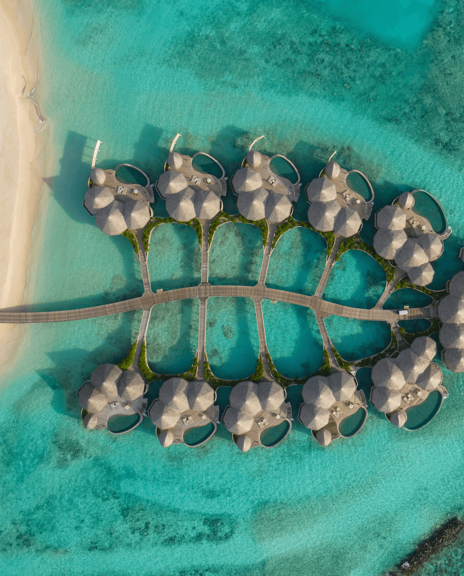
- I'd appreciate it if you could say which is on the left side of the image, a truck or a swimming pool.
swimming pool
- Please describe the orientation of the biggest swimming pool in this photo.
at an angle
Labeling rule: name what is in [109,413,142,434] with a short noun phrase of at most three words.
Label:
swimming pool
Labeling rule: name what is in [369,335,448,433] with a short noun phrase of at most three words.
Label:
house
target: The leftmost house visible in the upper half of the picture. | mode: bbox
[81,164,155,239]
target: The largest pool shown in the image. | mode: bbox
[404,390,441,431]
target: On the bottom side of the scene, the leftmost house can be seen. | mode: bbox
[76,361,150,436]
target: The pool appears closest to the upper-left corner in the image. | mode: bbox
[115,166,149,188]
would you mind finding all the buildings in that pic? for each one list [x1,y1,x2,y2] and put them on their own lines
[304,161,374,240]
[373,190,452,287]
[430,246,464,375]
[230,150,303,229]
[148,378,220,449]
[296,372,369,448]
[155,152,228,222]
[220,372,294,454]
[369,335,448,433]
[76,361,150,436]
[81,164,155,239]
